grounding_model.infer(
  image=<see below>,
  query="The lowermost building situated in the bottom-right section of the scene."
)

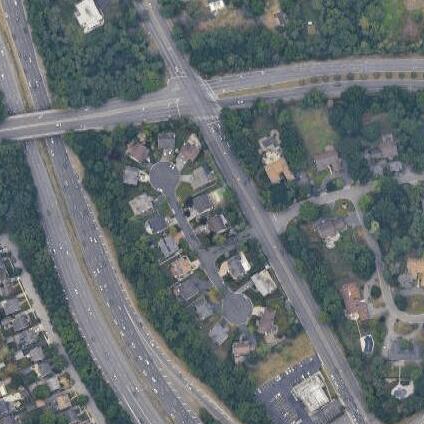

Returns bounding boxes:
[291,372,329,415]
